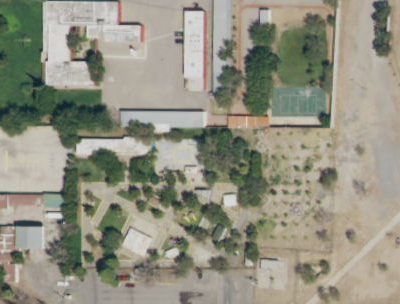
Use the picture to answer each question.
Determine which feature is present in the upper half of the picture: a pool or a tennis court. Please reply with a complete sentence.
You can see a tennis court in the upper half of the picture.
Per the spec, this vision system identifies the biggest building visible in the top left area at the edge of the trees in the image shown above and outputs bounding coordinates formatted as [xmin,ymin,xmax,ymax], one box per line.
[44,2,142,85]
